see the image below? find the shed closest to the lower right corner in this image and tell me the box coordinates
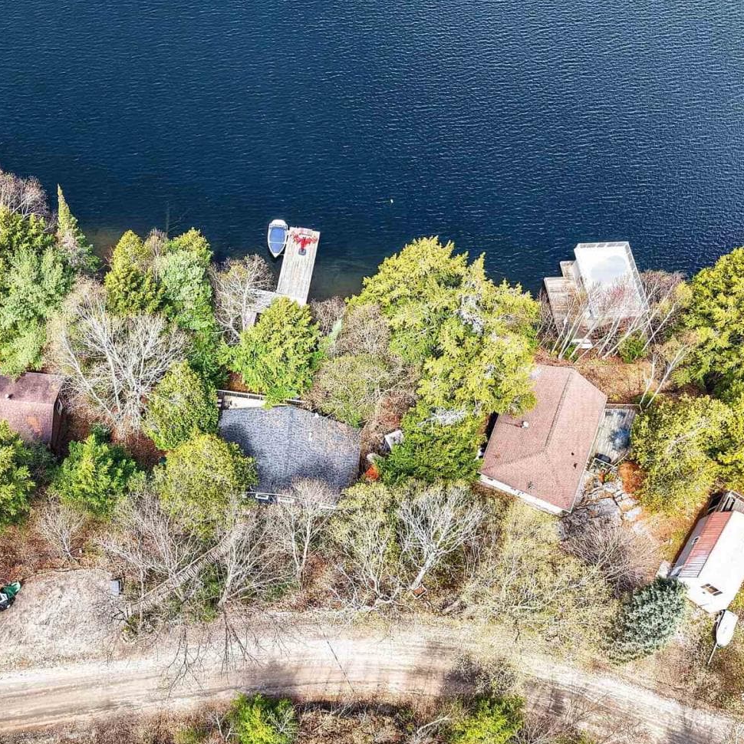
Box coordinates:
[669,510,744,615]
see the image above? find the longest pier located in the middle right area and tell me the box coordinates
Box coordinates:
[543,274,586,332]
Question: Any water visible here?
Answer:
Yes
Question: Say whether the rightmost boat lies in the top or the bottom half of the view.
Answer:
bottom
